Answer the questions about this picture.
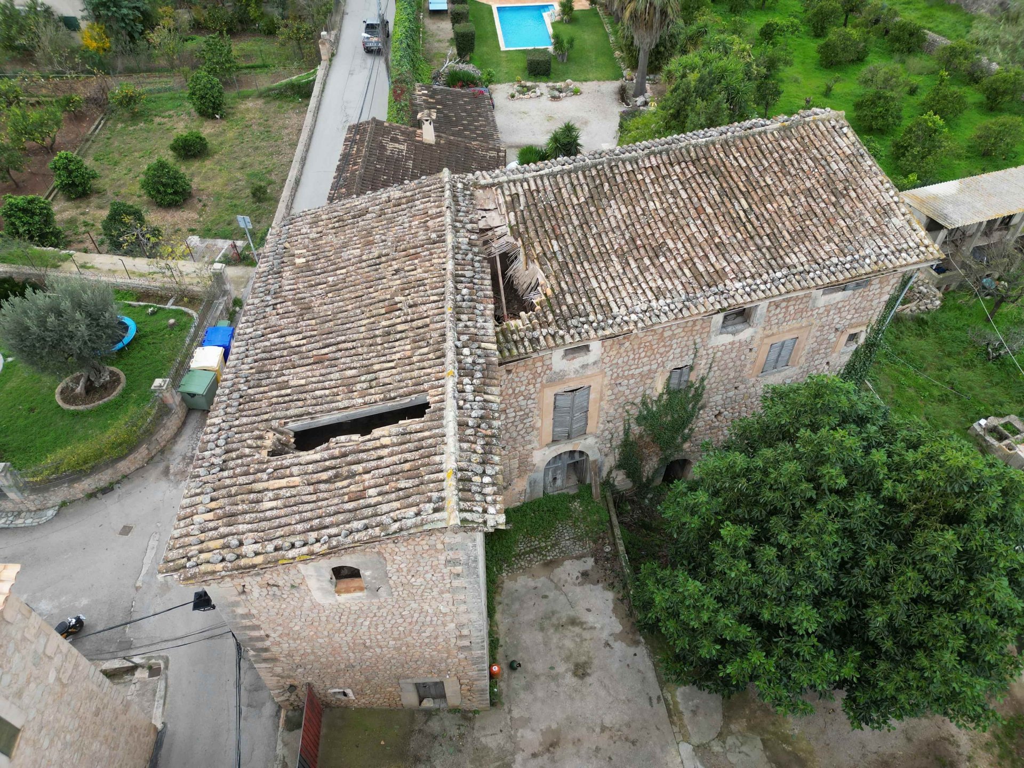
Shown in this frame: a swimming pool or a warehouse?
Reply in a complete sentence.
The one in the frame is a swimming pool.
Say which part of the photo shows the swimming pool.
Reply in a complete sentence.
The swimming pool appears toward the top of the photo.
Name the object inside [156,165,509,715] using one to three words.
house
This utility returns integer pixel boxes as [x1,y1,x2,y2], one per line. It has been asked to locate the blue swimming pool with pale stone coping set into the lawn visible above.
[492,4,556,50]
